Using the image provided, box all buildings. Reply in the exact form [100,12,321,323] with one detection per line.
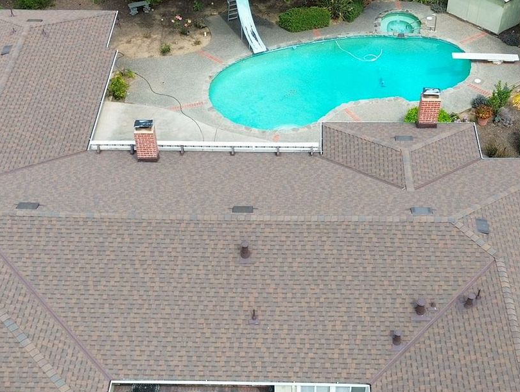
[448,0,520,33]
[0,5,520,392]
